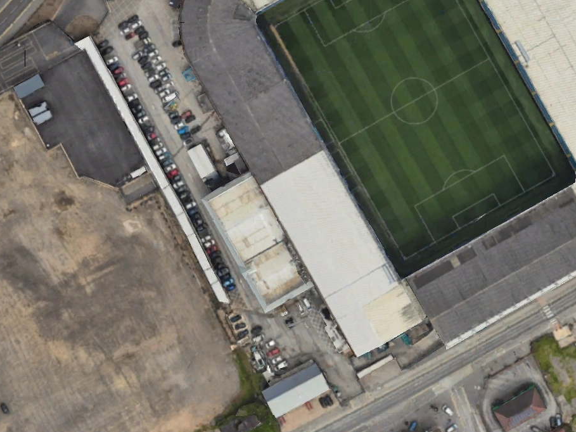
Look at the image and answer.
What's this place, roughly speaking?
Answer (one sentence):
What you see here is a sports ground.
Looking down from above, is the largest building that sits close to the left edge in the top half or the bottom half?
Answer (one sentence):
It is in the top half that the largest building that sits close to the left edge appears.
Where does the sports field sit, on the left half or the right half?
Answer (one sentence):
The sports field appears in the right half of the scene.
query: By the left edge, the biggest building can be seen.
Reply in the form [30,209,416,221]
[14,75,45,97]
